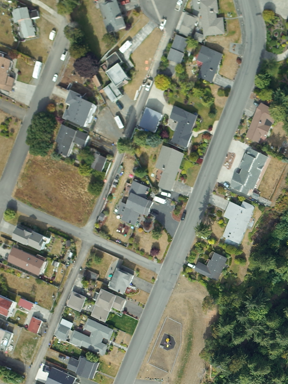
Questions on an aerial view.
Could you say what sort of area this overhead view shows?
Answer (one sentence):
It's a residential area.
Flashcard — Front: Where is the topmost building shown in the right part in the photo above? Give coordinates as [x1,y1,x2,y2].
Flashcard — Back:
[179,0,226,45]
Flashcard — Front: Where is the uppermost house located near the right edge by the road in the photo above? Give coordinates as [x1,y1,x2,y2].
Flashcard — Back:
[245,101,274,142]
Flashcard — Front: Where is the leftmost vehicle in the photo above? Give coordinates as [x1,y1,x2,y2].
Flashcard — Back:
[30,60,43,79]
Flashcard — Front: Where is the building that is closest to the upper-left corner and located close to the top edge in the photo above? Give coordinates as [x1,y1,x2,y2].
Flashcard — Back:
[11,7,42,41]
